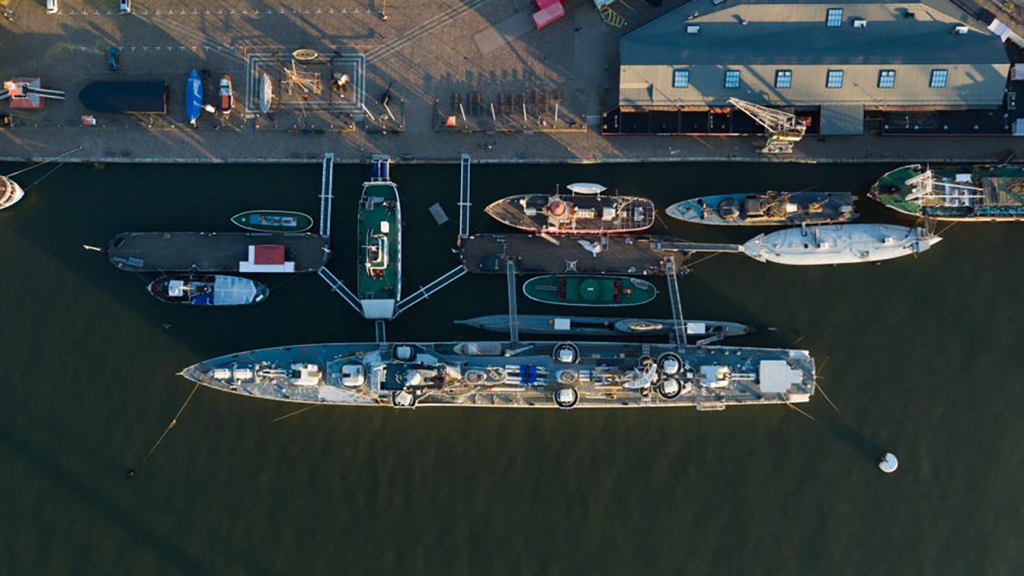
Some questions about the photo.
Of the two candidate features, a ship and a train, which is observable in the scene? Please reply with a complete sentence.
Of the two, only a ship appears.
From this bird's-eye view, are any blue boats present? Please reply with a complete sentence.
Yes, the photo shows a blue boat.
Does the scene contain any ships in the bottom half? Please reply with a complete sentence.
Yes, you'll find a ship in the bottom half.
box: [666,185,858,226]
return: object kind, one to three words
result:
boat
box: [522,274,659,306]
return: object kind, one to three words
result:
vessel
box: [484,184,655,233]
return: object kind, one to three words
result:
ship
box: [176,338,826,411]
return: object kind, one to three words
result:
ship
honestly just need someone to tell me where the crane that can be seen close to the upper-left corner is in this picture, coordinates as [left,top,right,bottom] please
[0,78,66,115]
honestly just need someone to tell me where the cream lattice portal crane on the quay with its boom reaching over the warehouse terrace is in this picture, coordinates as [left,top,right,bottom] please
[715,95,812,155]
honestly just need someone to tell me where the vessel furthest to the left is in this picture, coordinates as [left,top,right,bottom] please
[0,178,23,215]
